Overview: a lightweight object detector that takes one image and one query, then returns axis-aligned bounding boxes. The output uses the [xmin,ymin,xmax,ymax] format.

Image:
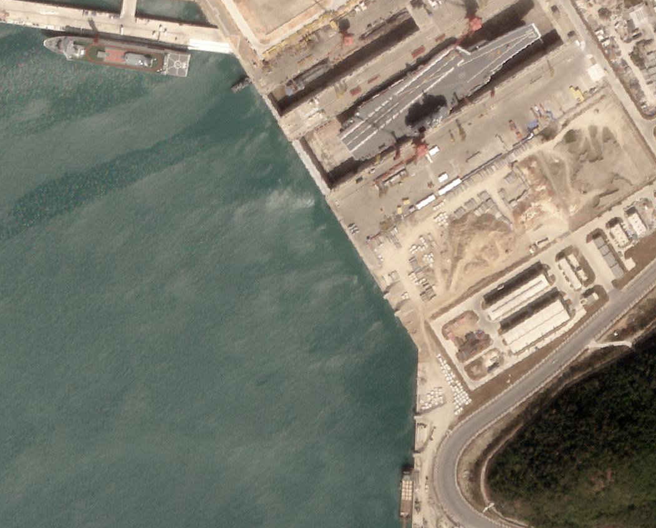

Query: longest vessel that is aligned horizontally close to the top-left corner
[44,27,190,76]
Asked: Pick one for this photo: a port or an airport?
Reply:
port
